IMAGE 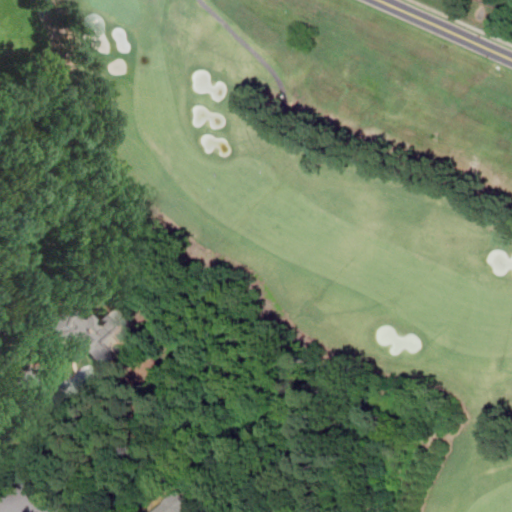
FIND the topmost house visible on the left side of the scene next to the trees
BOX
[54,308,125,362]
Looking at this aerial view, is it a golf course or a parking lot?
golf course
